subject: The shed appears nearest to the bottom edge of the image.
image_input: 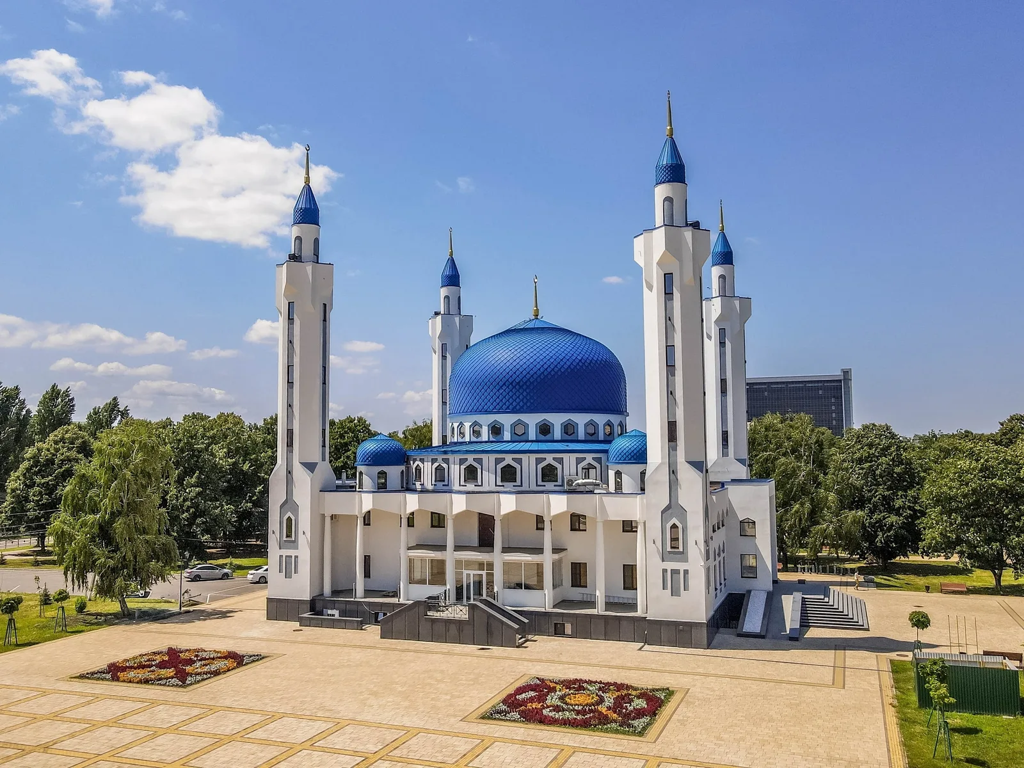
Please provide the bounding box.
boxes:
[908,651,1020,716]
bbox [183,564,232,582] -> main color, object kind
gray car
